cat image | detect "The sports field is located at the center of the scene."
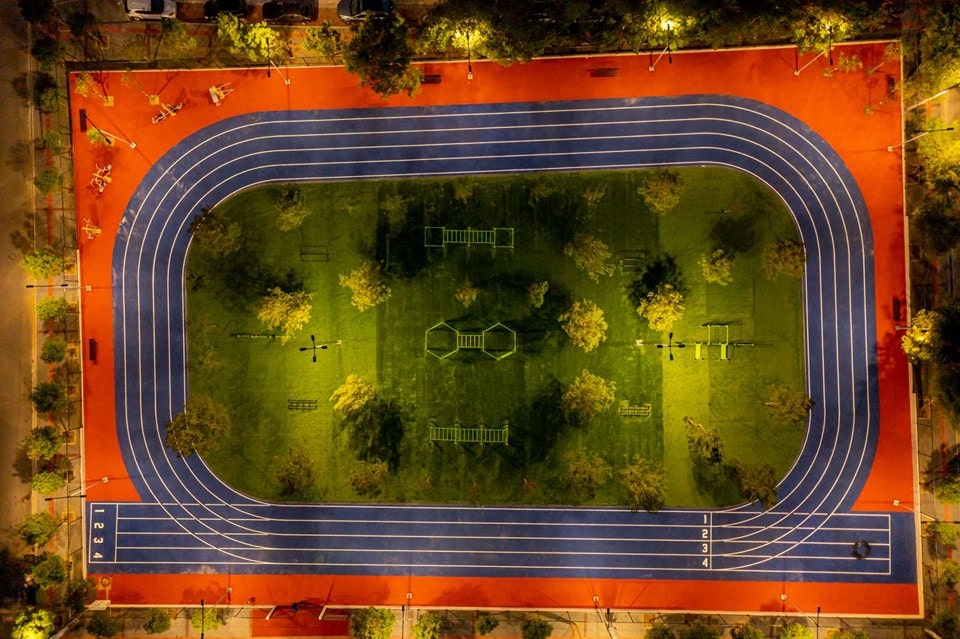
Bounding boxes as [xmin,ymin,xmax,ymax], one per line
[188,166,806,508]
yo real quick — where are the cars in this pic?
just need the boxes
[338,0,393,22]
[261,0,317,22]
[200,0,250,21]
[120,0,174,22]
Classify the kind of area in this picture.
sports ground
